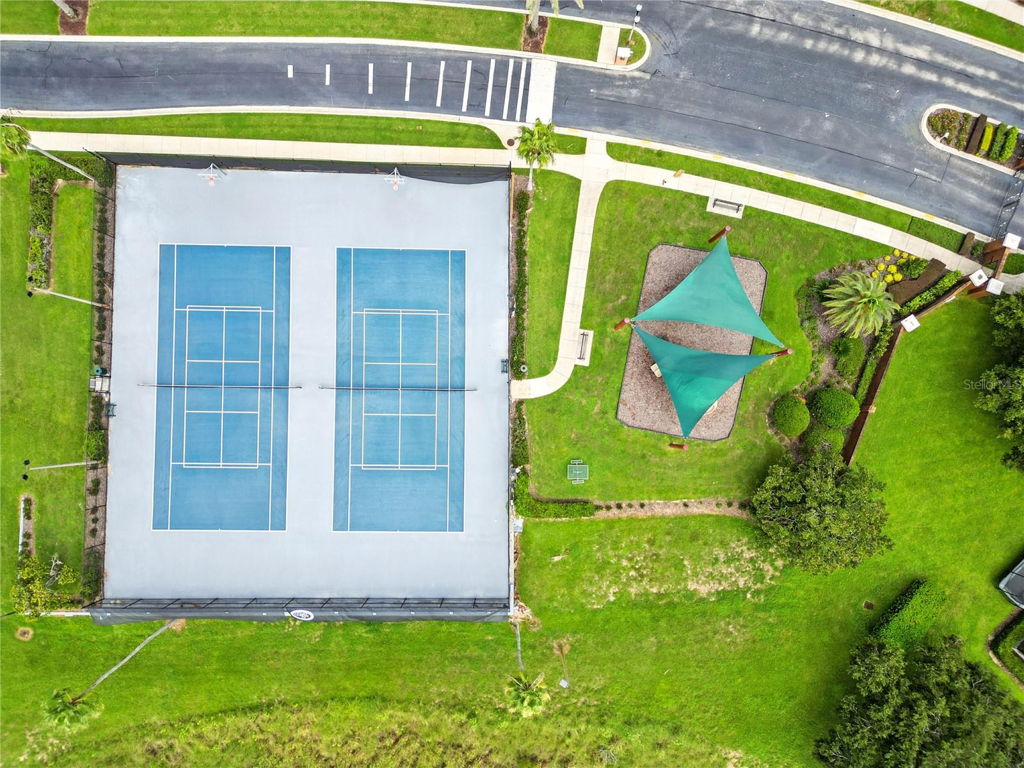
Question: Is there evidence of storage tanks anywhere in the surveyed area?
No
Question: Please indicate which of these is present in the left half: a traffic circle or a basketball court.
basketball court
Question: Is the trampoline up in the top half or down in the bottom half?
bottom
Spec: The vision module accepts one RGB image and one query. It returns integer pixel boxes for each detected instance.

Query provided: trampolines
[989,548,1024,611]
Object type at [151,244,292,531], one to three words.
tennis court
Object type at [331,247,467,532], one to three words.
tennis court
